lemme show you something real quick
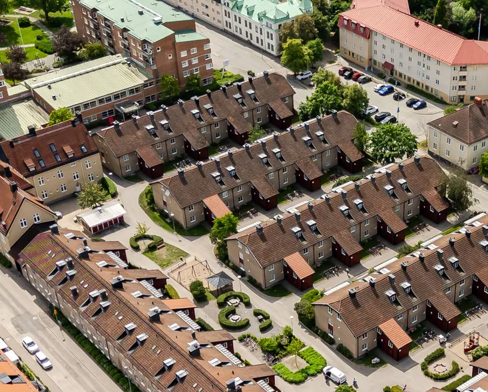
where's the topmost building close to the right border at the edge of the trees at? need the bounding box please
[340,0,488,100]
